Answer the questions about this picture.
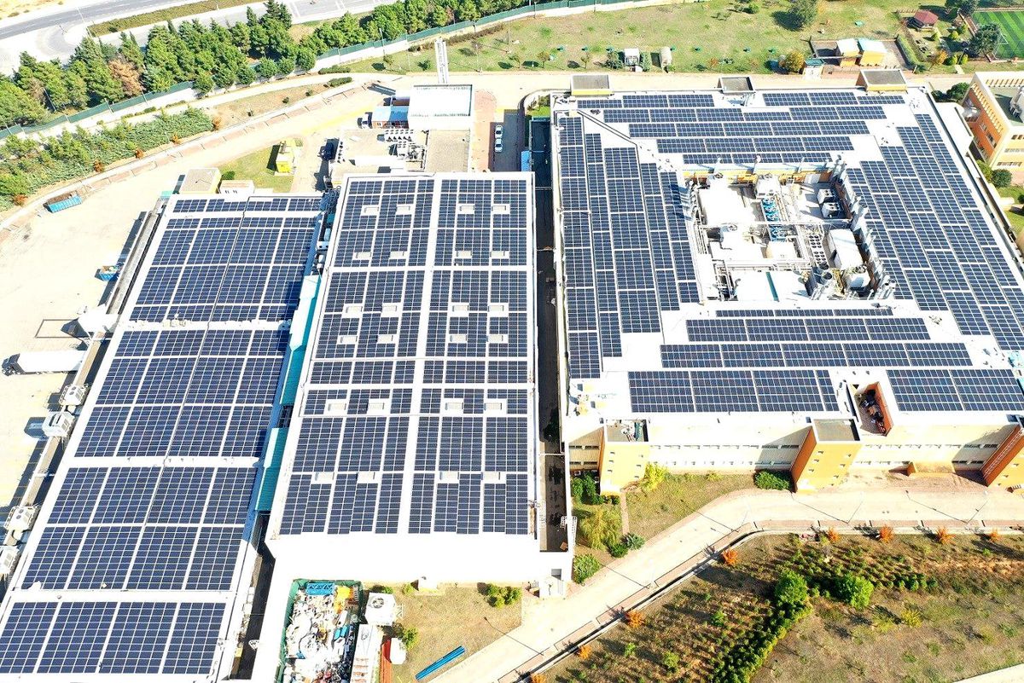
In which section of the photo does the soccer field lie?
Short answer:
top right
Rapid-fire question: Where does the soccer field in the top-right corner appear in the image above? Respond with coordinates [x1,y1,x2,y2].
[974,10,1024,59]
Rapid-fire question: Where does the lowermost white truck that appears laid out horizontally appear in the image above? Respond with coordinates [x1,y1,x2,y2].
[5,352,85,376]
